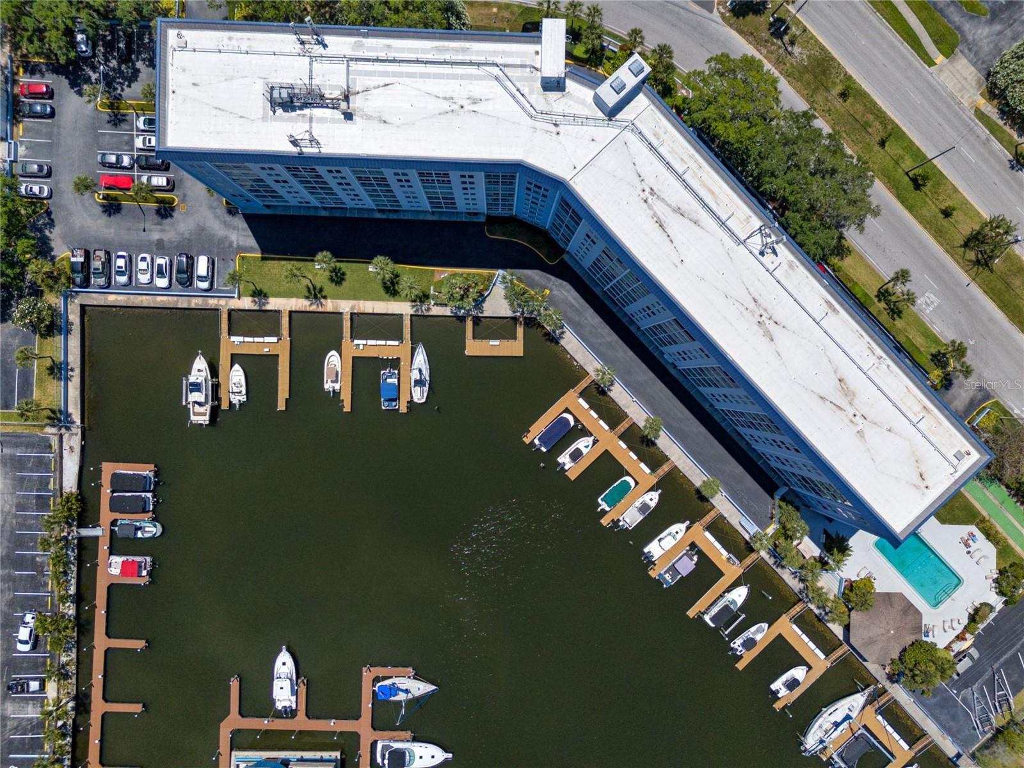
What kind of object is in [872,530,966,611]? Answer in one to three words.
swimming pool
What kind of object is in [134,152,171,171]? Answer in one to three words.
car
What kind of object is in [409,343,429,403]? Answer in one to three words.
boat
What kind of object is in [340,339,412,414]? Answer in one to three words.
pier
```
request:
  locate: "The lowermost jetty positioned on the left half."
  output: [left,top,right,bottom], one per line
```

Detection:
[219,665,413,768]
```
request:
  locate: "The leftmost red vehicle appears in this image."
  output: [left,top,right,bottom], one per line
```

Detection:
[17,80,54,100]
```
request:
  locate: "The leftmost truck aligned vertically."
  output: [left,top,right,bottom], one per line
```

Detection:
[13,609,38,654]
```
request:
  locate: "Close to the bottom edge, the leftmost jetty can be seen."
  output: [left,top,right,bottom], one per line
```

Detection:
[88,461,155,768]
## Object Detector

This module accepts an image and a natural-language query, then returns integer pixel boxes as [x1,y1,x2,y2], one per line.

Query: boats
[900,763,920,768]
[184,350,211,430]
[108,471,163,493]
[557,431,594,469]
[376,673,438,716]
[767,667,812,697]
[376,738,449,768]
[231,745,343,768]
[324,346,342,397]
[705,573,751,628]
[598,465,635,510]
[107,493,163,515]
[112,519,162,538]
[641,521,694,564]
[270,648,295,716]
[228,361,246,407]
[656,544,699,587]
[106,556,161,580]
[535,414,583,451]
[619,489,662,528]
[377,357,403,410]
[409,343,429,403]
[729,625,771,654]
[799,690,885,768]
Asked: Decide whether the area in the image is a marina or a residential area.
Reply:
marina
